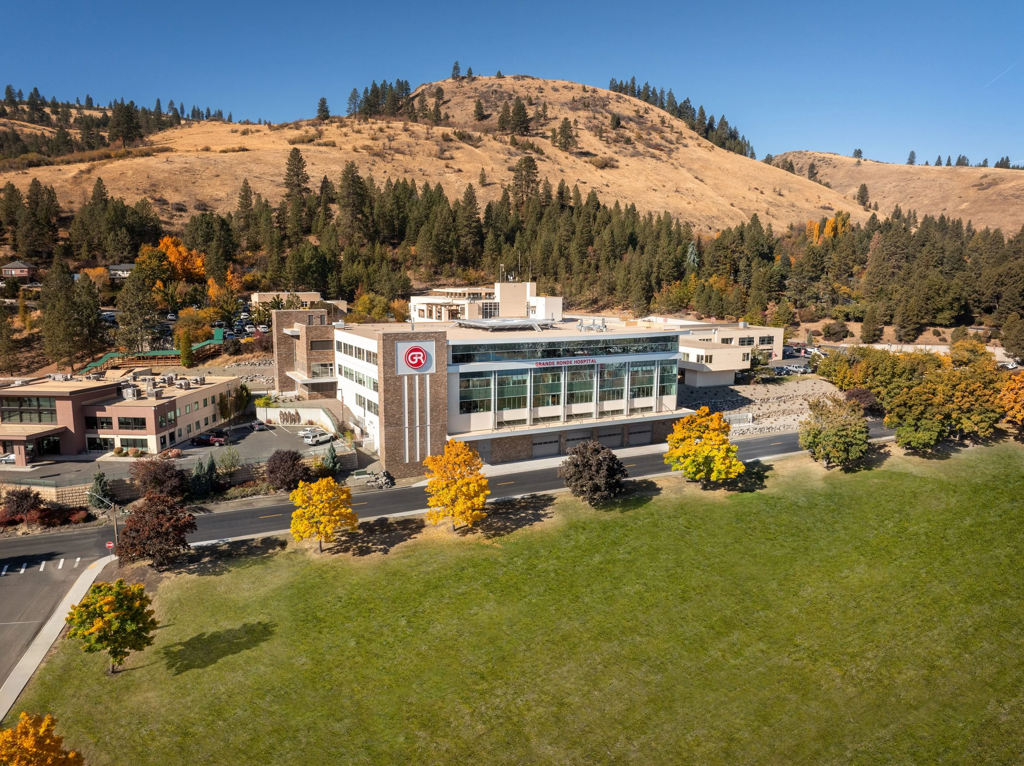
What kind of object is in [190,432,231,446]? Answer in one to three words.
vehicle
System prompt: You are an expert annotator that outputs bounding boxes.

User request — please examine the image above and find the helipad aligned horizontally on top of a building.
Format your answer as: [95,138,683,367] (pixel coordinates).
[438,318,592,337]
